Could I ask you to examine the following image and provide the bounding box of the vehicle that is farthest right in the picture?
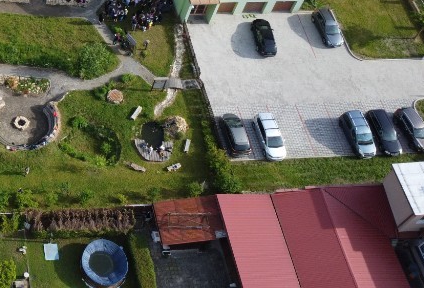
[399,112,424,154]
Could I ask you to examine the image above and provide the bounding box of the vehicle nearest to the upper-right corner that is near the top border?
[316,13,345,48]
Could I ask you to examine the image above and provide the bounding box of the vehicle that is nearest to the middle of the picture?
[222,118,252,159]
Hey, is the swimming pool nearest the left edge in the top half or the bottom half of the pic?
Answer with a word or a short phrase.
bottom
